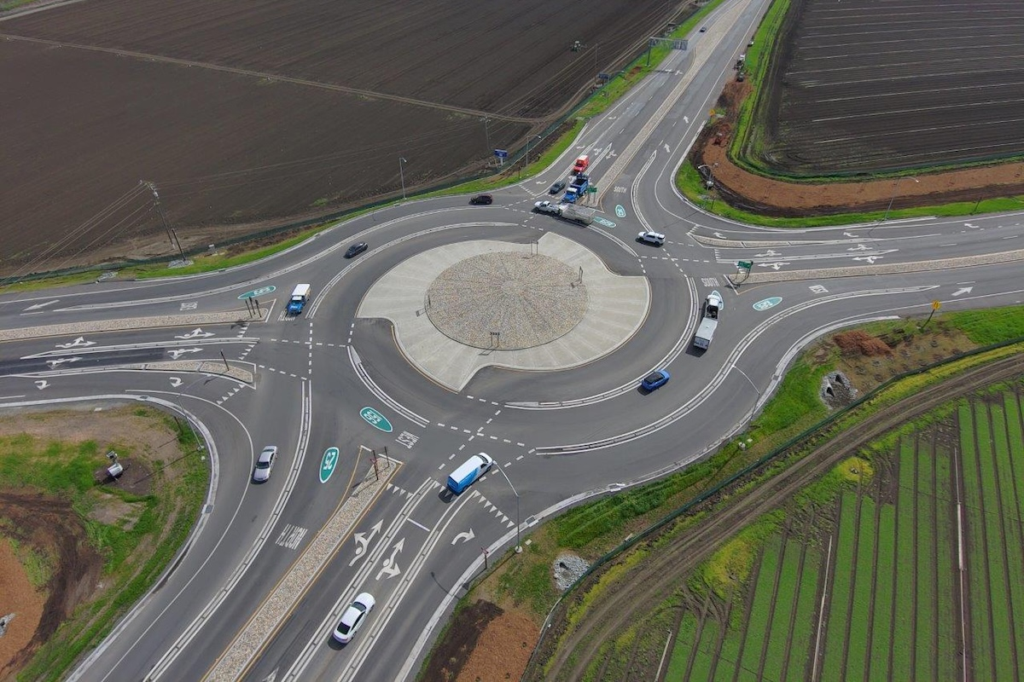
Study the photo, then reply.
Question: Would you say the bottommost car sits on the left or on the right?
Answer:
left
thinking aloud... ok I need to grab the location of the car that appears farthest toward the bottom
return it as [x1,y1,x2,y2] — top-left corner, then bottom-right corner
[331,596,373,644]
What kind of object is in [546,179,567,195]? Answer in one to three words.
car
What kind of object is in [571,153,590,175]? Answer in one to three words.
vehicle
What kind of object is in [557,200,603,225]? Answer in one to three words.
trailer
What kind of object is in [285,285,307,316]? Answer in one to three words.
truck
